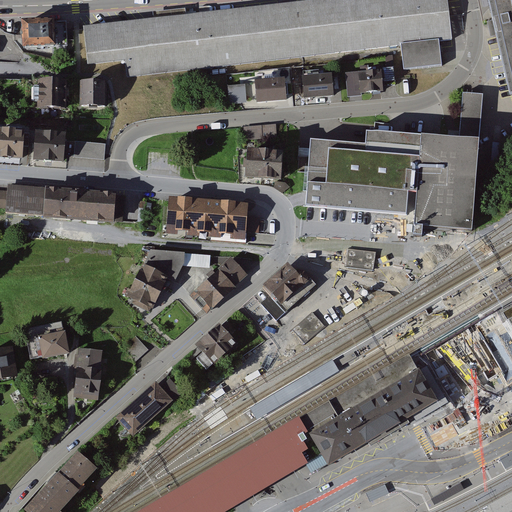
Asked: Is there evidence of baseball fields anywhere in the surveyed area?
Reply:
No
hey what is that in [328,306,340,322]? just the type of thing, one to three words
vehicle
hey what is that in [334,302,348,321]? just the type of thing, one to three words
vehicle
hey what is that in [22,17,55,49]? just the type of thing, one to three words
house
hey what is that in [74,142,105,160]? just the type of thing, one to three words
building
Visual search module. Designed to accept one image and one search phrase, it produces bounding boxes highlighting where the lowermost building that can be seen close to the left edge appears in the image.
[24,472,80,512]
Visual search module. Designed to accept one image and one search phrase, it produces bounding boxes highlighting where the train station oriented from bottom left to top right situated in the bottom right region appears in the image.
[310,368,438,464]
